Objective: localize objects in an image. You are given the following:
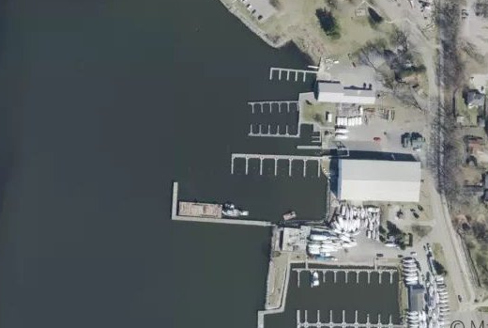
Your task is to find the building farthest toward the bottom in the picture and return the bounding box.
[408,287,424,311]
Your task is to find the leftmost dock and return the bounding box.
[171,182,271,227]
